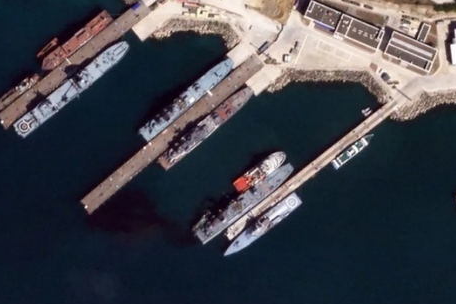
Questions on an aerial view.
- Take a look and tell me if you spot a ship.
Yes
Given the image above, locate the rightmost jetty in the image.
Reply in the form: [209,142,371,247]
[227,103,397,241]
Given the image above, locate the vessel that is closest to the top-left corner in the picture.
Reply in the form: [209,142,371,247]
[37,38,57,56]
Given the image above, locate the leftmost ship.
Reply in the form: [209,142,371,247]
[0,72,41,106]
